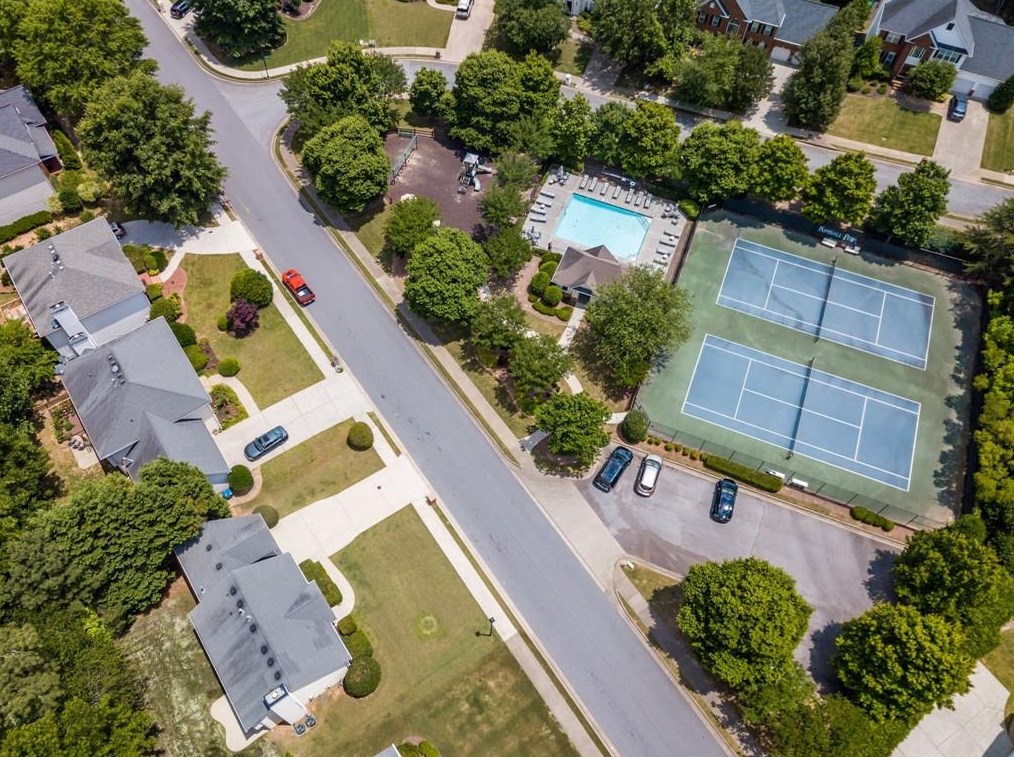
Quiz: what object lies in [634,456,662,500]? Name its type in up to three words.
car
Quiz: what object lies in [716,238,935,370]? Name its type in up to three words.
tennis court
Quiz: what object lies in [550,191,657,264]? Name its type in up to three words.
swimming pool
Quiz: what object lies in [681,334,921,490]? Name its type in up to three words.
tennis court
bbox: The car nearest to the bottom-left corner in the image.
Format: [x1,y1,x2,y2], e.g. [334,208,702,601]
[243,424,292,463]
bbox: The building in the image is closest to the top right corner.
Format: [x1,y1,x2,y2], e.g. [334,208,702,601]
[870,0,1014,99]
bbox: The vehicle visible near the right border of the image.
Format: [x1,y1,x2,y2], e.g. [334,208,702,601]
[946,98,967,124]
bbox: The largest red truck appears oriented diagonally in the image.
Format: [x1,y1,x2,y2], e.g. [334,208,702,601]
[279,270,320,308]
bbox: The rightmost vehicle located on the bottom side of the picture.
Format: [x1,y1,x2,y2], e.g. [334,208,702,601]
[710,480,738,527]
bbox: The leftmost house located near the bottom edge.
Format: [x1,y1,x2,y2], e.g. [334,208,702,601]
[177,512,354,741]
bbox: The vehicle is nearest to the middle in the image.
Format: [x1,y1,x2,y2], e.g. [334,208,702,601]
[594,447,631,495]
